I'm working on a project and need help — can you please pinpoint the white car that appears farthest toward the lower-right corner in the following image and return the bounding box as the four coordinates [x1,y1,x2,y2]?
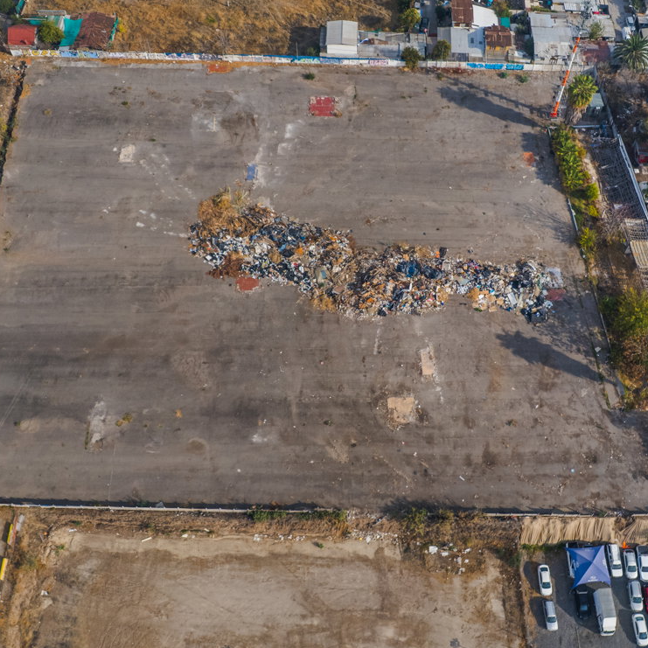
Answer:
[631,613,648,646]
